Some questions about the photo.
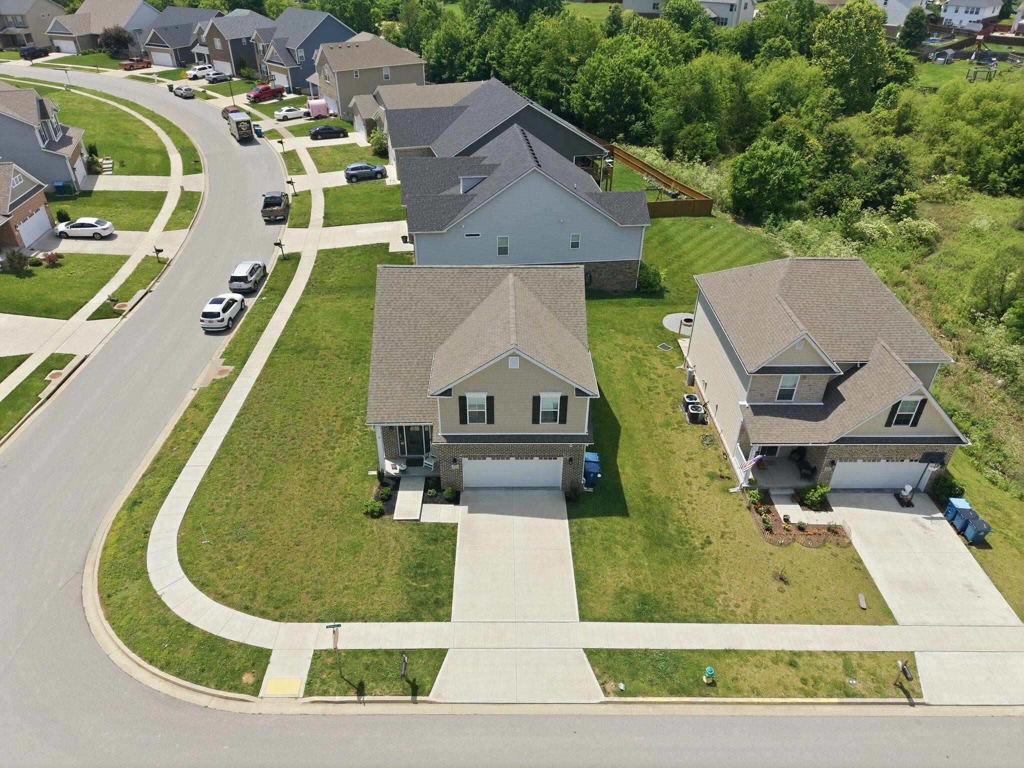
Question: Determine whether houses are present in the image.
Yes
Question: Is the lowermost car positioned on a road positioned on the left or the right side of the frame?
left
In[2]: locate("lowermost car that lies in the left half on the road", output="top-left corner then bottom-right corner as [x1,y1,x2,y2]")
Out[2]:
[198,293,246,330]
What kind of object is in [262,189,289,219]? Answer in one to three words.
truck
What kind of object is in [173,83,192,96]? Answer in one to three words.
vehicle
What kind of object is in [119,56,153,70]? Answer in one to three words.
vehicle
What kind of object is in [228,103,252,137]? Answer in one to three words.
truck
